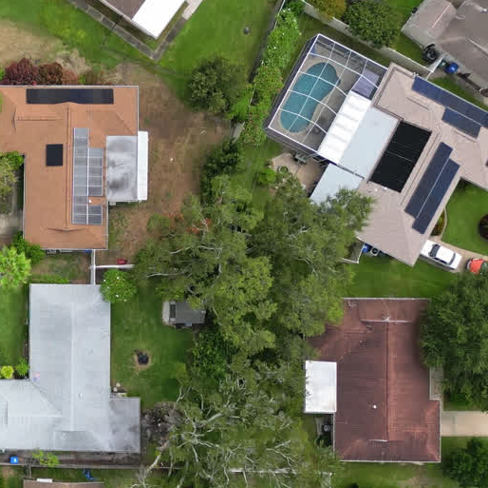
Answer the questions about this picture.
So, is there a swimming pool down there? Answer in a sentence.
Yes, a swimming pool is visible in the scene.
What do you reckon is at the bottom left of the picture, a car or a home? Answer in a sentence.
There is a home at the bottom left of the picture.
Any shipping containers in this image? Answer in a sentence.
No, no shipping container is visible in the view.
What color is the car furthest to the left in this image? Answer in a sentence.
The color of the car furthest to the left is white.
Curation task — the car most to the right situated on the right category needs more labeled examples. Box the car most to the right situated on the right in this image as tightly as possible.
[462,256,488,278]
